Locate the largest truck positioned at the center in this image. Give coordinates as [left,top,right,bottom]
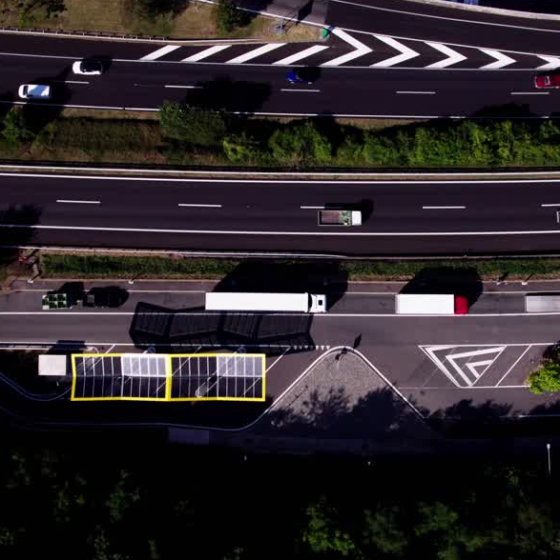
[207,292,323,313]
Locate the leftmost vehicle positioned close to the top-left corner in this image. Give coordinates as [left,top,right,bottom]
[18,82,52,100]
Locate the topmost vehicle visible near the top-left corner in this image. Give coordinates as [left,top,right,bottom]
[73,58,104,75]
